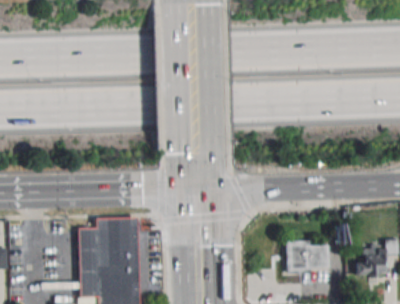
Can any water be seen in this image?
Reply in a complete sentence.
No, there is no water in the image.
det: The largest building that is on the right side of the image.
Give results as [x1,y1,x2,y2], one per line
[285,240,330,273]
